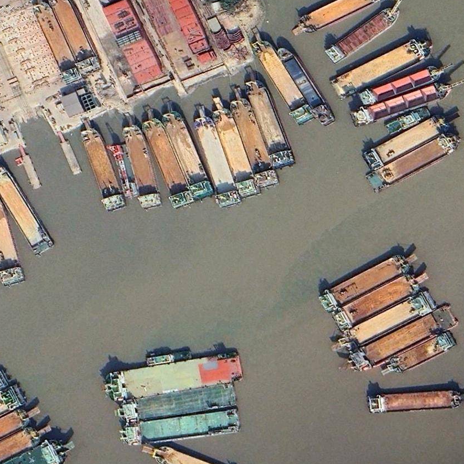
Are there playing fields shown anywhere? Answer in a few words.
No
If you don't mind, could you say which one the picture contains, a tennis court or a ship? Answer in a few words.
ship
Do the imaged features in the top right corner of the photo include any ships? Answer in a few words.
Yes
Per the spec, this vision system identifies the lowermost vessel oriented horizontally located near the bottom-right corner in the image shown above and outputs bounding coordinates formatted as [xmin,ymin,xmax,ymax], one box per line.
[370,391,464,413]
